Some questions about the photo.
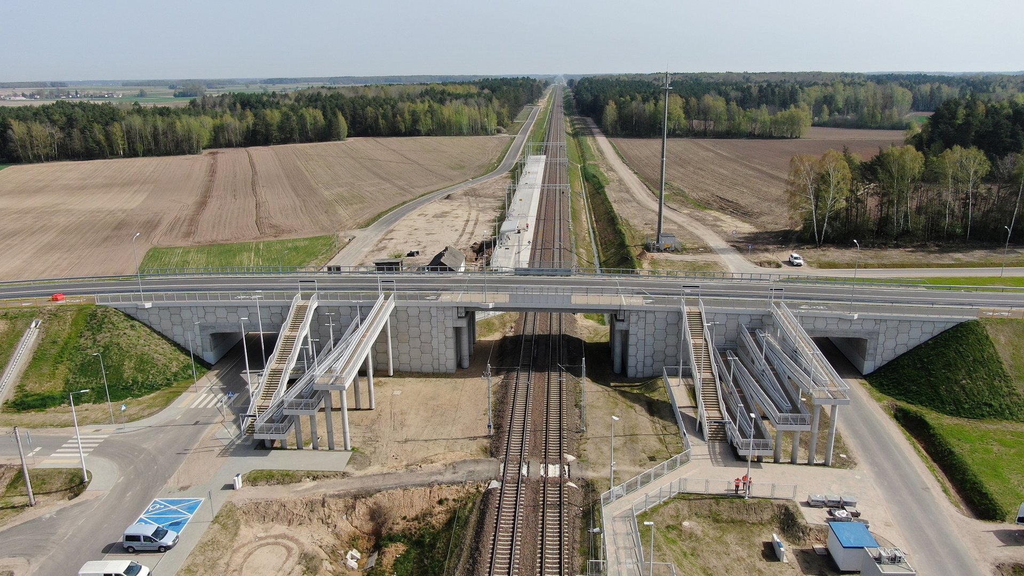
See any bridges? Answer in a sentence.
Yes, the photo shows a bridge.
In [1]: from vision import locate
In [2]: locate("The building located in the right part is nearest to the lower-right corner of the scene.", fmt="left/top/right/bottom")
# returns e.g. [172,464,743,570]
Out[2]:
[866,542,917,576]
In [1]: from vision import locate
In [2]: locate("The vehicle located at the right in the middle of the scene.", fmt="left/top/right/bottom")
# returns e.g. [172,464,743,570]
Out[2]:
[783,254,804,266]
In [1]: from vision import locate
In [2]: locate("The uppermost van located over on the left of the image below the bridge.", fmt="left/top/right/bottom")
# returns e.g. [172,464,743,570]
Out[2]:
[121,521,185,552]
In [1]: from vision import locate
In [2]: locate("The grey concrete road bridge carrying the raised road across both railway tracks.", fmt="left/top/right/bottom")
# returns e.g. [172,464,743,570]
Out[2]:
[100,275,988,372]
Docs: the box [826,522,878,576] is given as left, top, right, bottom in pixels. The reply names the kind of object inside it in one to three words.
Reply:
building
